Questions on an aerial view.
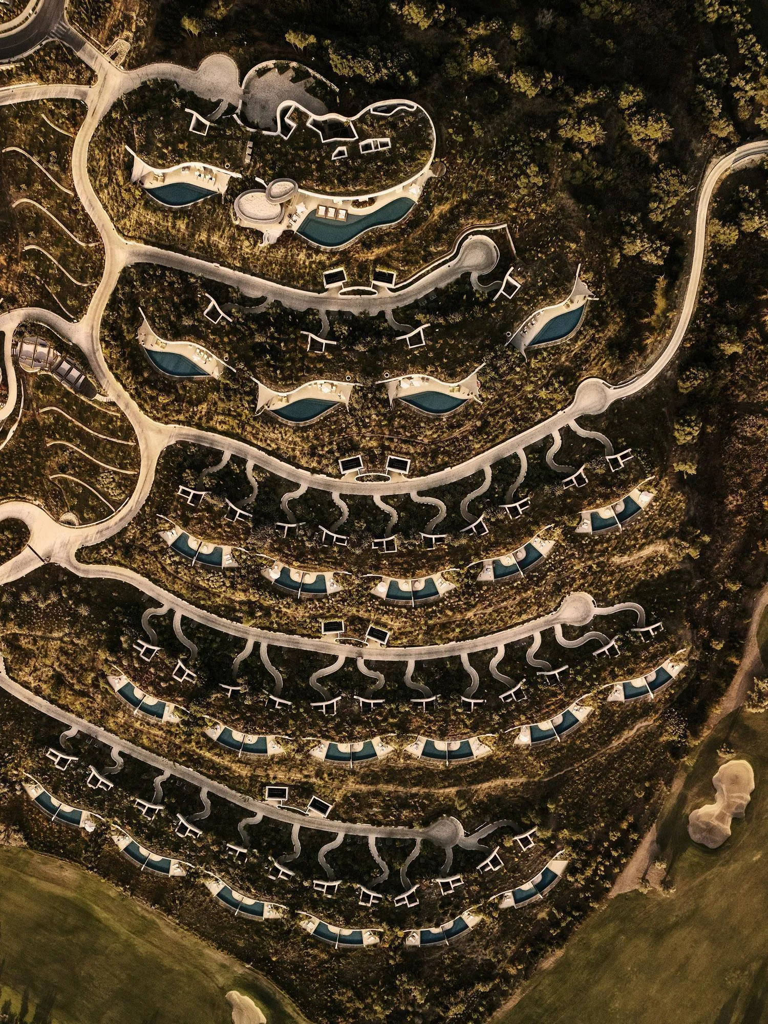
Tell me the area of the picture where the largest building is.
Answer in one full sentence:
The largest building sits in the top section of the image.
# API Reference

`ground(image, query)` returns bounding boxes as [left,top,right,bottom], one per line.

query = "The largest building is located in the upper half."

[232,98,438,253]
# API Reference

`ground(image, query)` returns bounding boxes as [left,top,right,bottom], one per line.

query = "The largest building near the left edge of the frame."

[18,335,112,404]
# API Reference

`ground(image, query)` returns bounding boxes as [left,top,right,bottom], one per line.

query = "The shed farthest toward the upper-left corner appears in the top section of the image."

[105,38,133,69]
